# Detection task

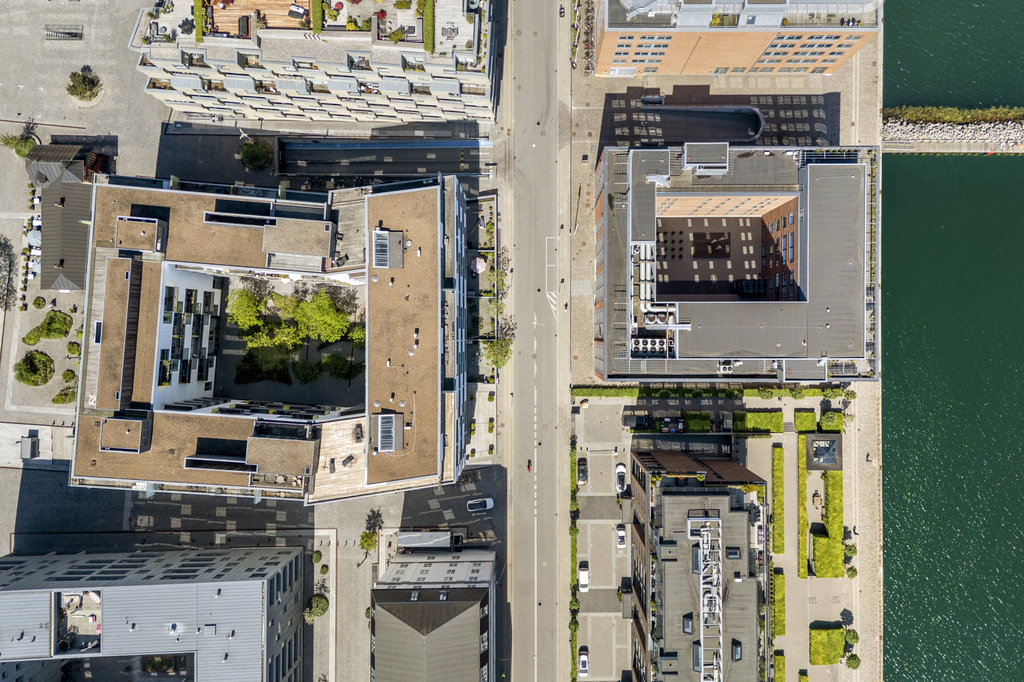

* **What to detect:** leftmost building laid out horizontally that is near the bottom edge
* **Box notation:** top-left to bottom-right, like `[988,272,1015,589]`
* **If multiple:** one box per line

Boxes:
[0,547,303,682]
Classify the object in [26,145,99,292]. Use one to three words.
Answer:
house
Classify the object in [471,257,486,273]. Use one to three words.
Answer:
umbrella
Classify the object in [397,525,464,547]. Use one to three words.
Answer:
truck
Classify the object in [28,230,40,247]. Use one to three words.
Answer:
umbrella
